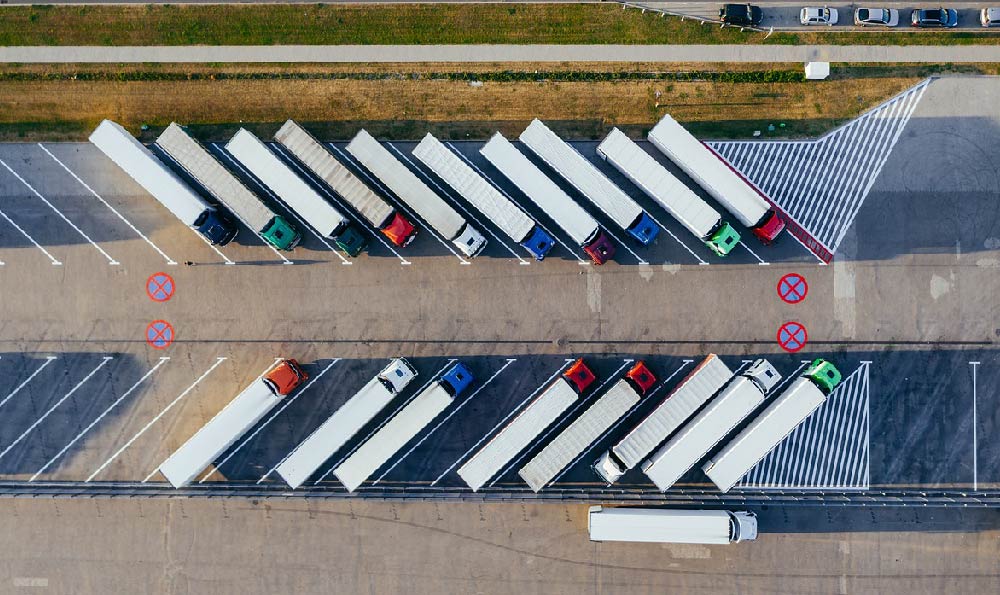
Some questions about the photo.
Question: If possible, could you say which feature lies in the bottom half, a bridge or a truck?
truck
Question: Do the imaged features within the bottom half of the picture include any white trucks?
Yes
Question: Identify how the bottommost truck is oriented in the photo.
from left to right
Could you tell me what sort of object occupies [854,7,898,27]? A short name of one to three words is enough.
car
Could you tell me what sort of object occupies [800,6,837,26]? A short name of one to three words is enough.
car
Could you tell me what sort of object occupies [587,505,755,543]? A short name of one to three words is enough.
truck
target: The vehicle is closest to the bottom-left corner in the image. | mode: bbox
[159,351,311,489]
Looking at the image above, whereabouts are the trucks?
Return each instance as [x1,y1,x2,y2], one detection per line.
[458,357,598,490]
[272,117,422,251]
[224,127,373,263]
[479,132,619,267]
[412,133,557,264]
[589,354,732,486]
[334,357,478,492]
[155,122,306,258]
[596,127,739,259]
[641,356,781,491]
[346,129,490,263]
[88,117,245,253]
[519,358,658,491]
[520,119,660,250]
[276,352,420,489]
[646,114,788,247]
[587,505,755,543]
[700,359,842,491]
[159,351,311,489]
